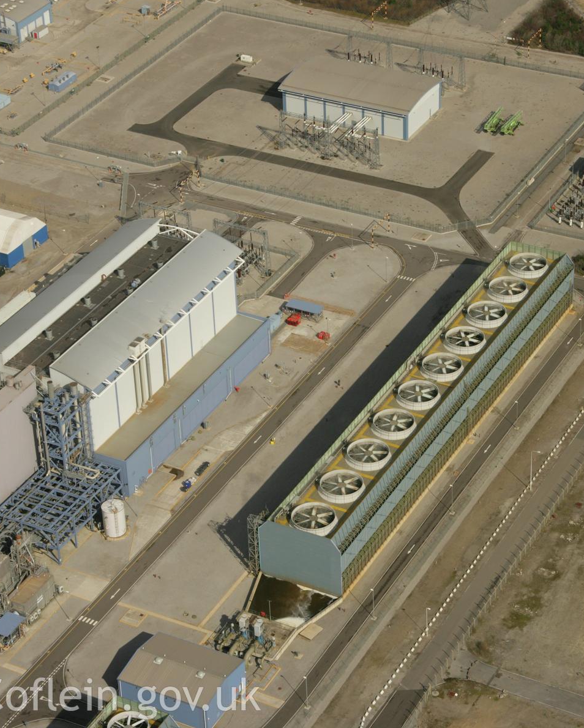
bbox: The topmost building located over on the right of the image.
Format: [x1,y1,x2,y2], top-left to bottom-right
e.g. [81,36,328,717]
[278,57,446,141]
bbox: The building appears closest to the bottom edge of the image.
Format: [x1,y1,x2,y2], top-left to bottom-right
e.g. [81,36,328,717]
[116,632,248,728]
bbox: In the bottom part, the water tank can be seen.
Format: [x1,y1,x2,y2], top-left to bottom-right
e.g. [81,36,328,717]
[101,497,129,543]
